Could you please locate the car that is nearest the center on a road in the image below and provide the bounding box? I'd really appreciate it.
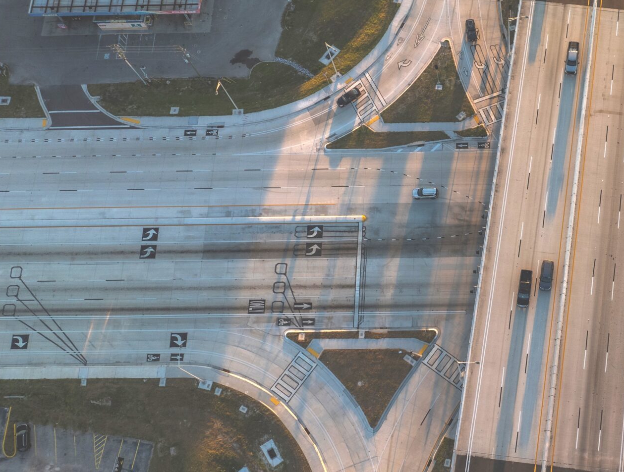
[413,187,439,200]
